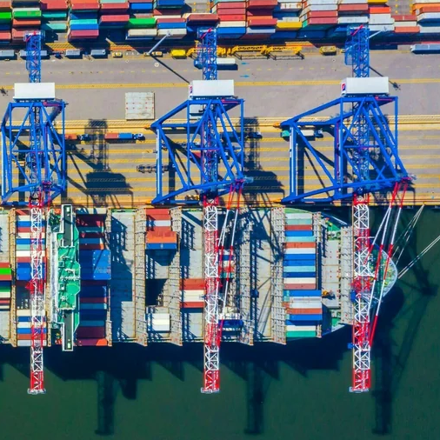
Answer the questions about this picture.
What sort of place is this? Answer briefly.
port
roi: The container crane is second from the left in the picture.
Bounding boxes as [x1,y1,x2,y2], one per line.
[136,23,255,396]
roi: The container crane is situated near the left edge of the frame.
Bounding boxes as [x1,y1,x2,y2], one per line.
[0,26,71,396]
